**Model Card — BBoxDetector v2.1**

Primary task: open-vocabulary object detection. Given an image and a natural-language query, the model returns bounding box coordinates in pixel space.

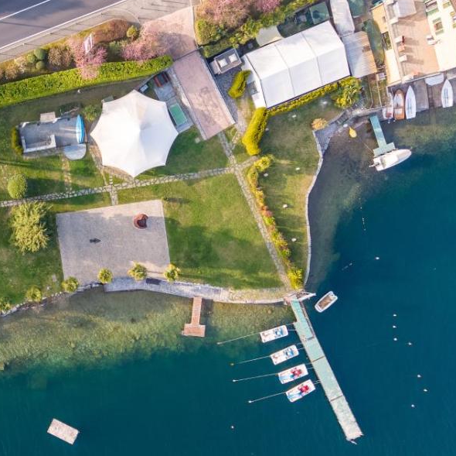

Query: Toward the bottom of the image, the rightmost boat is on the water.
[318,292,339,310]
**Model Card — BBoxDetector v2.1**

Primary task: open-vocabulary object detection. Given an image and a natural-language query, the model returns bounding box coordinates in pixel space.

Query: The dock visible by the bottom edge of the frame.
[291,297,363,445]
